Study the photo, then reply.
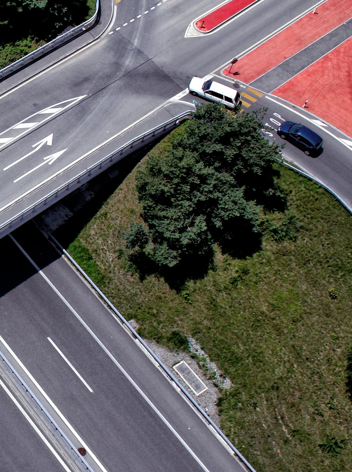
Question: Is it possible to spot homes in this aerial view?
No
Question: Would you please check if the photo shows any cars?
Yes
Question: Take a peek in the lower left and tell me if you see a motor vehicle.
No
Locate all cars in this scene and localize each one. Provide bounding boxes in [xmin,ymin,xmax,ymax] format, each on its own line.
[278,121,328,158]
[186,77,239,108]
